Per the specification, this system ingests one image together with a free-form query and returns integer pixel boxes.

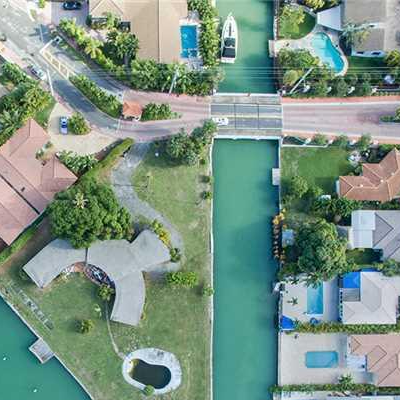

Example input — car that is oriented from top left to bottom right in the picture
[30,64,46,80]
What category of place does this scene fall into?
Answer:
residential area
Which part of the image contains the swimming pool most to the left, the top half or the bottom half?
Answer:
bottom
